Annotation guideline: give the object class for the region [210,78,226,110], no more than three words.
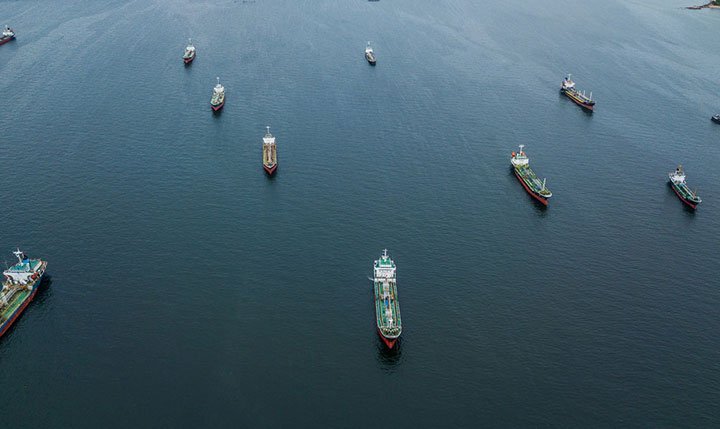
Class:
ship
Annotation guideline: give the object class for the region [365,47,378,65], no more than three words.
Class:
ship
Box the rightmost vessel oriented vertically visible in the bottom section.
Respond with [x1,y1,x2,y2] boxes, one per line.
[368,255,401,347]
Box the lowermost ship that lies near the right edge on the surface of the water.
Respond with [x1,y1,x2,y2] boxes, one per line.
[662,166,709,210]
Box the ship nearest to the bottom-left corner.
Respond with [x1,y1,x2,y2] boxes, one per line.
[0,250,48,337]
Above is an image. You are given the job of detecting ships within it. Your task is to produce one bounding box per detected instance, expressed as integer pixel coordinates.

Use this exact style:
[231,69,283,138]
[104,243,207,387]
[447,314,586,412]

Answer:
[506,146,554,205]
[262,126,277,175]
[365,47,378,65]
[368,255,401,347]
[210,78,226,110]
[0,27,14,44]
[558,77,597,111]
[181,41,196,63]
[662,166,709,210]
[0,250,48,337]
